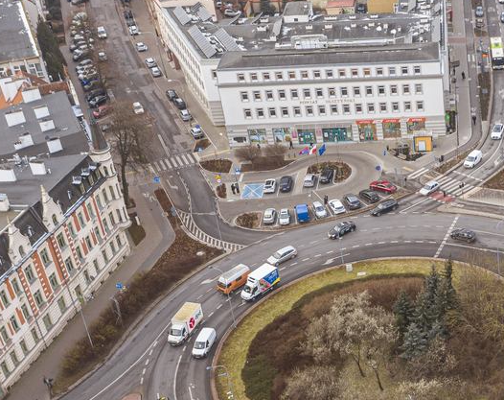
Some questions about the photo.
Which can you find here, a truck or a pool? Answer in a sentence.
This aerial view contains a truck.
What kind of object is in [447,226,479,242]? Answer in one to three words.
car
